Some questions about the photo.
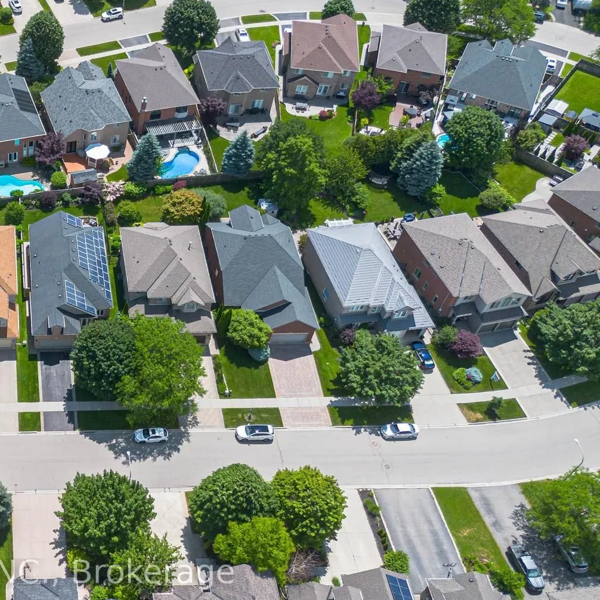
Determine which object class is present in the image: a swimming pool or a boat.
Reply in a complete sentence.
The one in the frame is a swimming pool.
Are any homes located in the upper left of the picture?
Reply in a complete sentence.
Yes, a home shows up in the upper left of the picture.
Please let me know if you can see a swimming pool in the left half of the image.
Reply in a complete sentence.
Yes, I can see a swimming pool in the left half of the image.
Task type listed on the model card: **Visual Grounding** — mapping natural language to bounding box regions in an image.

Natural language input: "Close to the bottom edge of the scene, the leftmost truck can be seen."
[505,543,545,598]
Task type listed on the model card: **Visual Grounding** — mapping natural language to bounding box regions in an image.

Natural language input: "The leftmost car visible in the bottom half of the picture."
[131,426,172,446]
